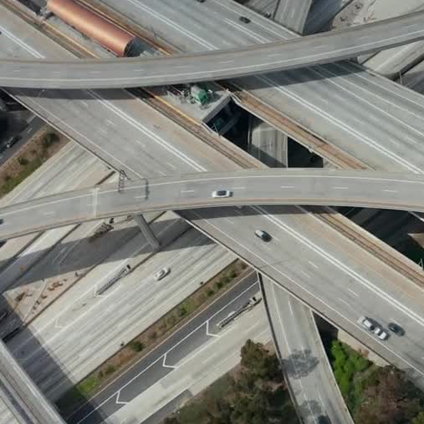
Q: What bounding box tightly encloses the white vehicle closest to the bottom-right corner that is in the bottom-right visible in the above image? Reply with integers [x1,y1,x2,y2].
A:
[372,326,391,341]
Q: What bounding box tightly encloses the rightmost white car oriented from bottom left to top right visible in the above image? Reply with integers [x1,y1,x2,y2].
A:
[154,267,170,281]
